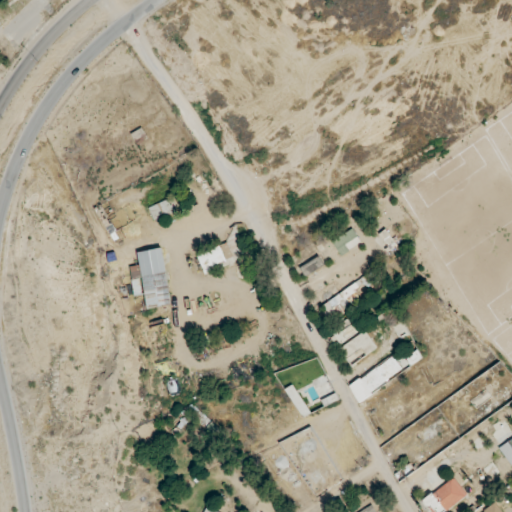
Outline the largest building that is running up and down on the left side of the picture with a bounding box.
[137,247,170,310]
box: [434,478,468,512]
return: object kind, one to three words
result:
house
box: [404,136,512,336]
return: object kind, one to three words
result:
soccer field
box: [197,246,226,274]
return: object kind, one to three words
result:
house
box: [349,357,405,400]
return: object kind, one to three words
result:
building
